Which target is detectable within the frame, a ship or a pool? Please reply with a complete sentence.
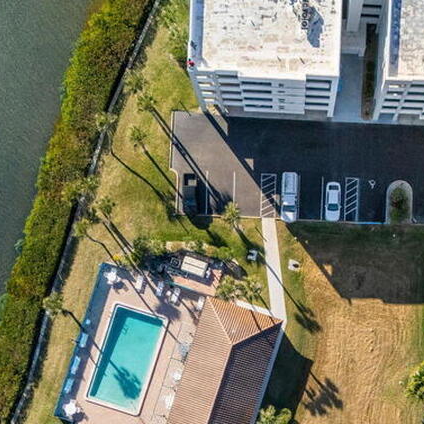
The image shows a pool.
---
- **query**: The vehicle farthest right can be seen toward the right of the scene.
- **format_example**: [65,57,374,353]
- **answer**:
[324,182,342,222]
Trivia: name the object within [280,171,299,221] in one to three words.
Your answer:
vehicle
